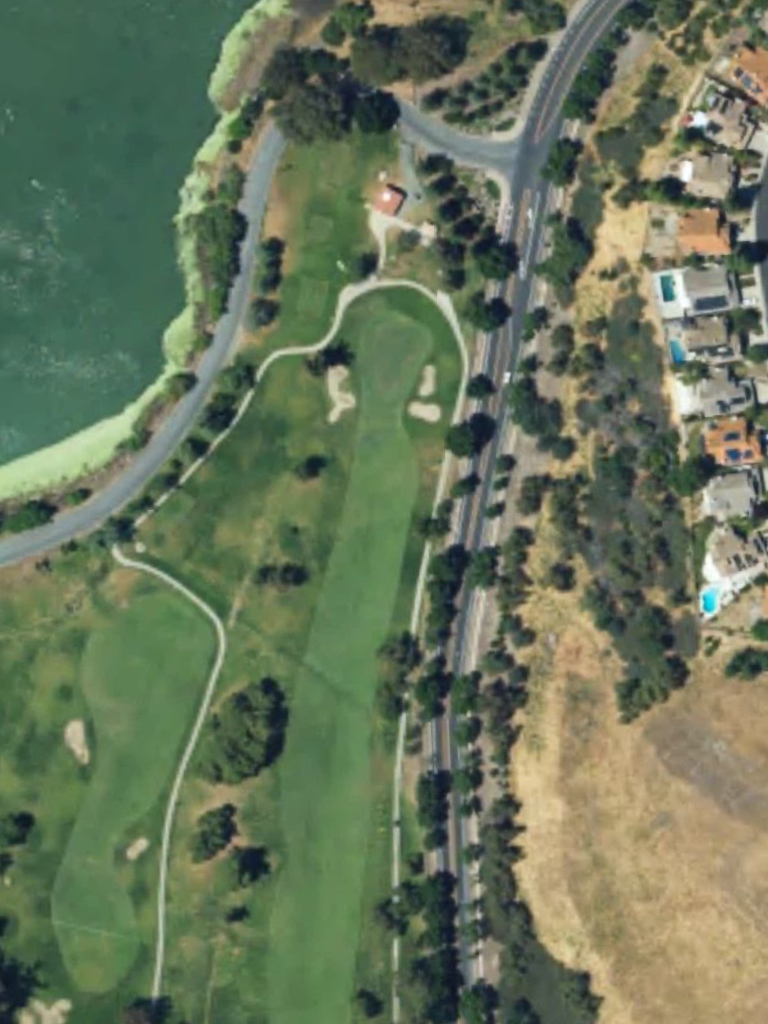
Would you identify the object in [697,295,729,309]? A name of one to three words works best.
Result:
solar panel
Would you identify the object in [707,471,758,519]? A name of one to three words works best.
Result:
house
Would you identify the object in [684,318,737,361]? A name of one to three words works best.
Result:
house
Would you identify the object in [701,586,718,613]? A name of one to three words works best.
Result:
swimming pool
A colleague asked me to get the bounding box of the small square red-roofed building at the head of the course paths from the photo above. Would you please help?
[371,182,404,216]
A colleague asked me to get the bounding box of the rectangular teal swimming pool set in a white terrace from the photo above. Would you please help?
[660,273,676,302]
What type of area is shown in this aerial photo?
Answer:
golf course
